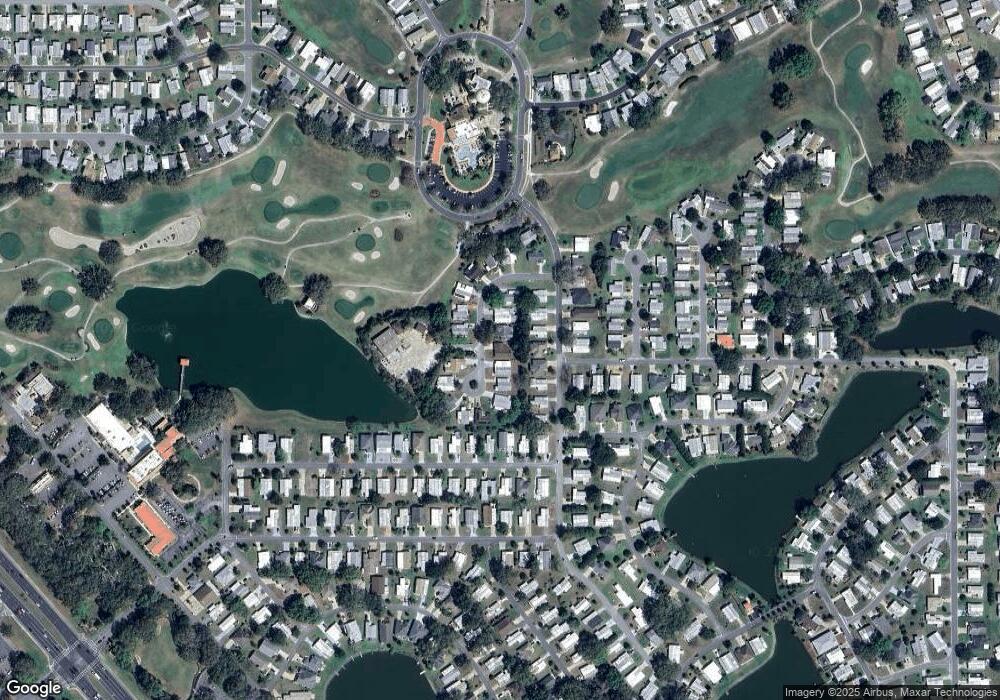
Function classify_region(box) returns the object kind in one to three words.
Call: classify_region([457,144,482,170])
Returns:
swimming pool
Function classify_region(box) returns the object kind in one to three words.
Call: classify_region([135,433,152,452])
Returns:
swimming pool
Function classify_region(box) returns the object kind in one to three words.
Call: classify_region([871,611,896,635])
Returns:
house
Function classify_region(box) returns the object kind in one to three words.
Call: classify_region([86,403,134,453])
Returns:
building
